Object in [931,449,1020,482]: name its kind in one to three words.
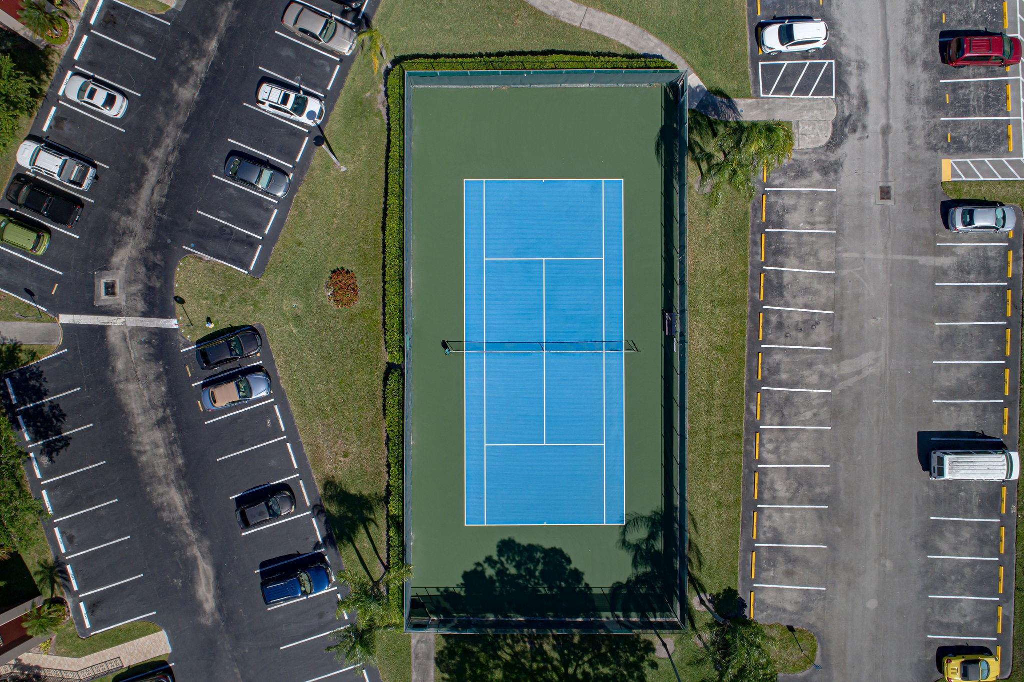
van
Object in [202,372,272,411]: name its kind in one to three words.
car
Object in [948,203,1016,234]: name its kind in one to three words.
car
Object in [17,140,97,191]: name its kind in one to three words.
truck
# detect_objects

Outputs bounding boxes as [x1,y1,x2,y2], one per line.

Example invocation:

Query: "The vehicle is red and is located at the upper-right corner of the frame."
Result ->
[948,33,1022,68]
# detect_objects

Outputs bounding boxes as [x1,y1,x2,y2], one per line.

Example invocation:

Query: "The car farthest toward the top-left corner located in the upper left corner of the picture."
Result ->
[64,76,131,120]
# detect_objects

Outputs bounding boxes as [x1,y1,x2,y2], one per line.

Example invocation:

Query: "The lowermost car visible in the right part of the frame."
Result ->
[942,652,1000,682]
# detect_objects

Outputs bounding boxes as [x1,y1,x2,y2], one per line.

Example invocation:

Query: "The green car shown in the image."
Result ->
[0,214,50,255]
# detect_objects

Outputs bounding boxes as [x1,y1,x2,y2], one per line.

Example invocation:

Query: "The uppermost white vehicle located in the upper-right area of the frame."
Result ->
[760,20,828,56]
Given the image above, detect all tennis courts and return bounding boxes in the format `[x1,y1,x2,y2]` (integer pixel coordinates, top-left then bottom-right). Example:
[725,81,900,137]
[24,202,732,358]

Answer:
[411,83,680,622]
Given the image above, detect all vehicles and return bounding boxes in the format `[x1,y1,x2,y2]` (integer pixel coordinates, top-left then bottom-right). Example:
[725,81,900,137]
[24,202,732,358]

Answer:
[235,491,295,529]
[6,177,85,228]
[224,154,292,197]
[195,329,264,369]
[948,203,1016,234]
[282,1,358,56]
[760,20,828,56]
[64,76,131,120]
[948,33,1022,68]
[260,562,333,605]
[17,140,97,191]
[256,81,326,129]
[942,652,1000,682]
[931,449,1020,482]
[202,372,272,411]
[0,214,50,255]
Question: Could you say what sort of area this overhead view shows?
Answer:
parking lot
